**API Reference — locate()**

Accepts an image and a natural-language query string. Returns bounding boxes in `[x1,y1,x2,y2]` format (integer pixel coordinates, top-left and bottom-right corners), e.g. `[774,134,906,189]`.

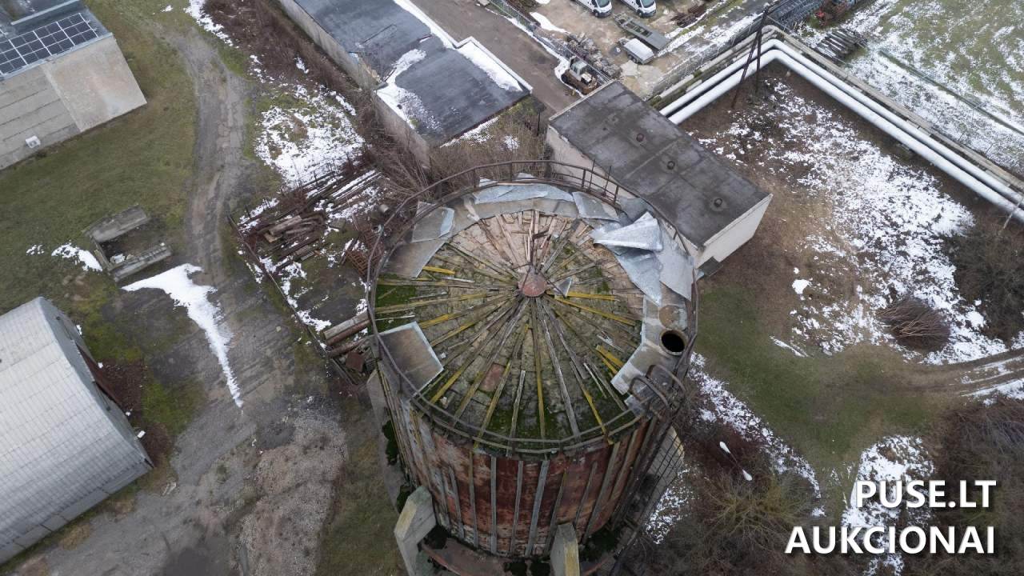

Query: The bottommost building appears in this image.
[0,302,153,573]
